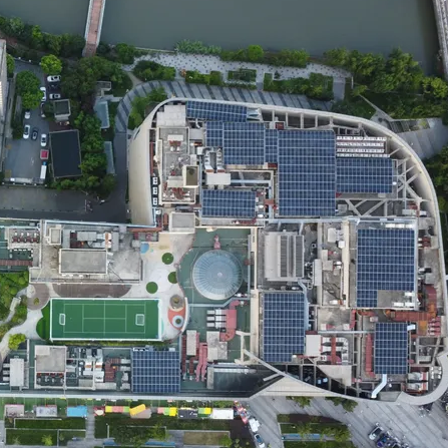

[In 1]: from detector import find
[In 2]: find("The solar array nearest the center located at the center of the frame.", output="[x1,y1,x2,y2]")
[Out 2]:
[201,190,255,218]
